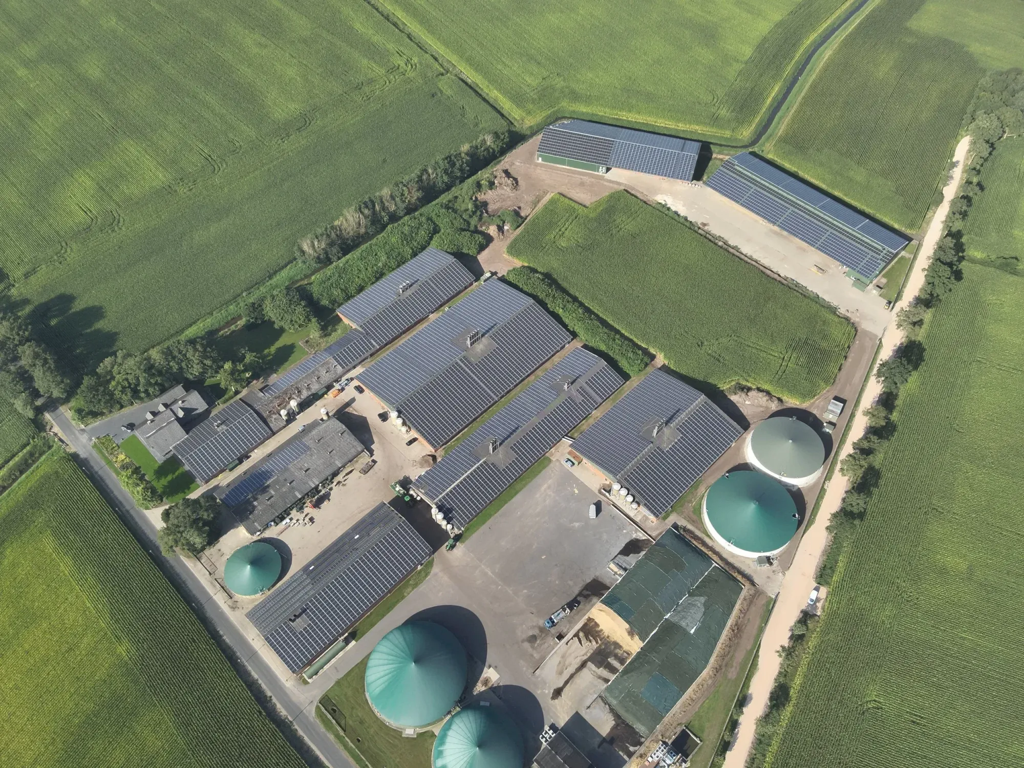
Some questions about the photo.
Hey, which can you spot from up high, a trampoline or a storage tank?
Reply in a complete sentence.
It is a storage tank that can be seen here.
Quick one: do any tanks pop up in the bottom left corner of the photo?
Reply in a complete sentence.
Yes, there is a tank in the bottom left corner of the photo.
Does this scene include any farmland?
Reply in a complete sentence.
Yes, farmland shows up in the scene.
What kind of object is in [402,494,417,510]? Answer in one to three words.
work vehicle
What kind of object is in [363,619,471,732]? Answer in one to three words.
storage tank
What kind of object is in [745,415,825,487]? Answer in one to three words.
storage tank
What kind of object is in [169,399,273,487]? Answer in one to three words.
barn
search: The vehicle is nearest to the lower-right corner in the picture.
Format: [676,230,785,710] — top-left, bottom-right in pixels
[807,588,819,604]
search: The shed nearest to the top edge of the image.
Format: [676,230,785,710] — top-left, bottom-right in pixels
[536,120,700,187]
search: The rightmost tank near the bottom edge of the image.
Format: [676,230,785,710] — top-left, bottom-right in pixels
[430,704,528,768]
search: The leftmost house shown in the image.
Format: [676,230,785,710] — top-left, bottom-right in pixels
[136,385,210,456]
